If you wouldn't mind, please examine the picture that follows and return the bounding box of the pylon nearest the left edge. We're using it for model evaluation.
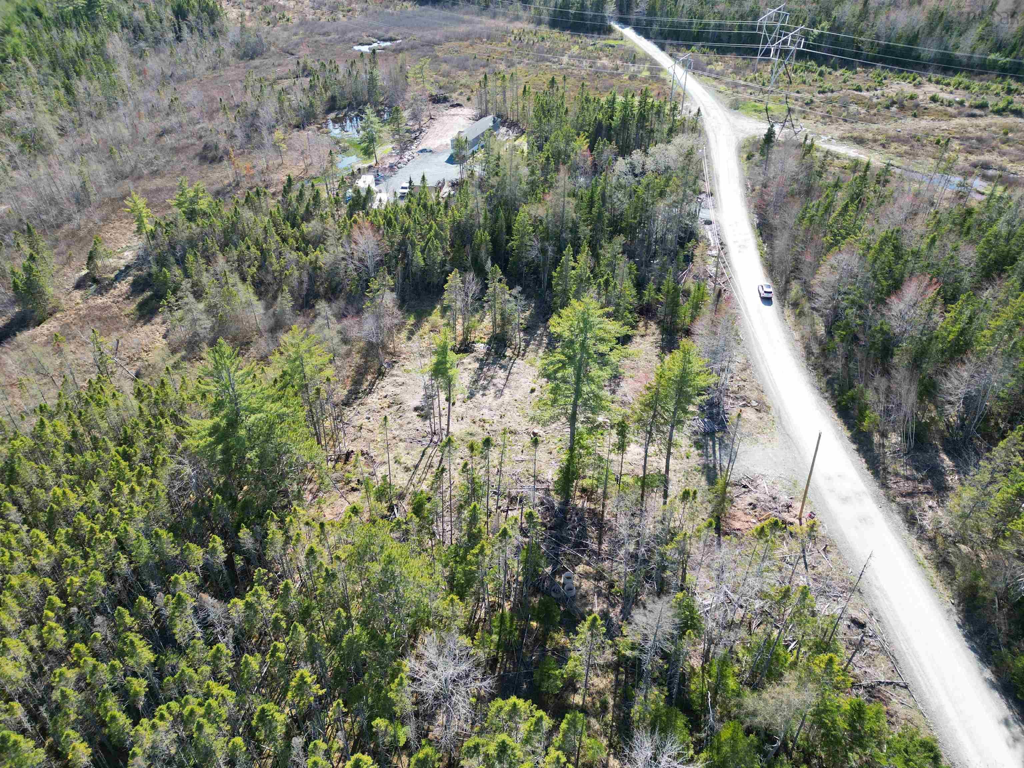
[661,49,700,137]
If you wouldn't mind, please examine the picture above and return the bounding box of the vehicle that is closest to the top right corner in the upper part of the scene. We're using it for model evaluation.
[756,277,775,296]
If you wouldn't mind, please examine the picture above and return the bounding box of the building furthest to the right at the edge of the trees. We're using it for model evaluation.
[436,115,501,157]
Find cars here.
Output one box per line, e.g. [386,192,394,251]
[756,277,775,296]
[398,179,411,195]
